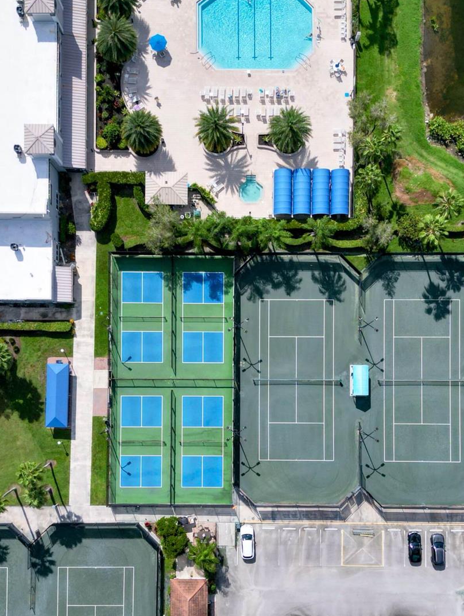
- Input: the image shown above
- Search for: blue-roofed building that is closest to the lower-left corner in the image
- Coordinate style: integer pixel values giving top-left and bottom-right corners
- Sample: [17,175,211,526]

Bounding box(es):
[45,363,72,428]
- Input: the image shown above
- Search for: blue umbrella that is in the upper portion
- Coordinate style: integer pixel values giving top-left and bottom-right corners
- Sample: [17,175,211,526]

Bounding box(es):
[148,33,168,53]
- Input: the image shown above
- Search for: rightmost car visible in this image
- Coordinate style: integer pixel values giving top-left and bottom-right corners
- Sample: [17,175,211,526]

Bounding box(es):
[430,532,447,568]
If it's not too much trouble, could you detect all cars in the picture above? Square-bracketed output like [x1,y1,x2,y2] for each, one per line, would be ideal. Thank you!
[407,531,423,564]
[239,525,255,560]
[430,532,447,568]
